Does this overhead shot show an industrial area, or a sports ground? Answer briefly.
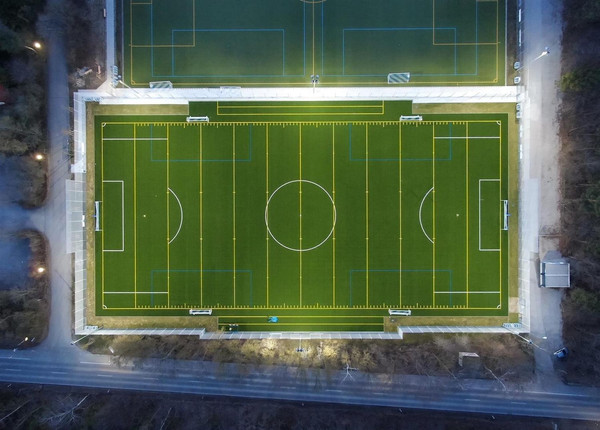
sports ground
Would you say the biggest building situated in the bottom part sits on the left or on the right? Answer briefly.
right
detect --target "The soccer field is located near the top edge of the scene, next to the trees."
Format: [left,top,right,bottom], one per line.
[122,0,506,87]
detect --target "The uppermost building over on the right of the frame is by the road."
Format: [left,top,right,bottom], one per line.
[534,262,570,287]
